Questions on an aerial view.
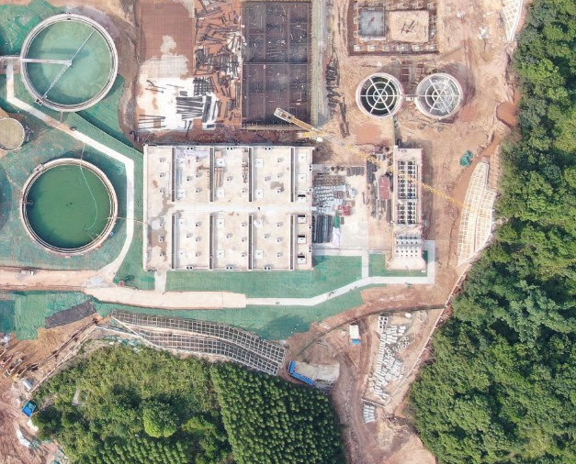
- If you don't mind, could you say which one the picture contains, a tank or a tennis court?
tank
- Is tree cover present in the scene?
Yes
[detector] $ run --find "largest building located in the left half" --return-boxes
[141,146,315,271]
